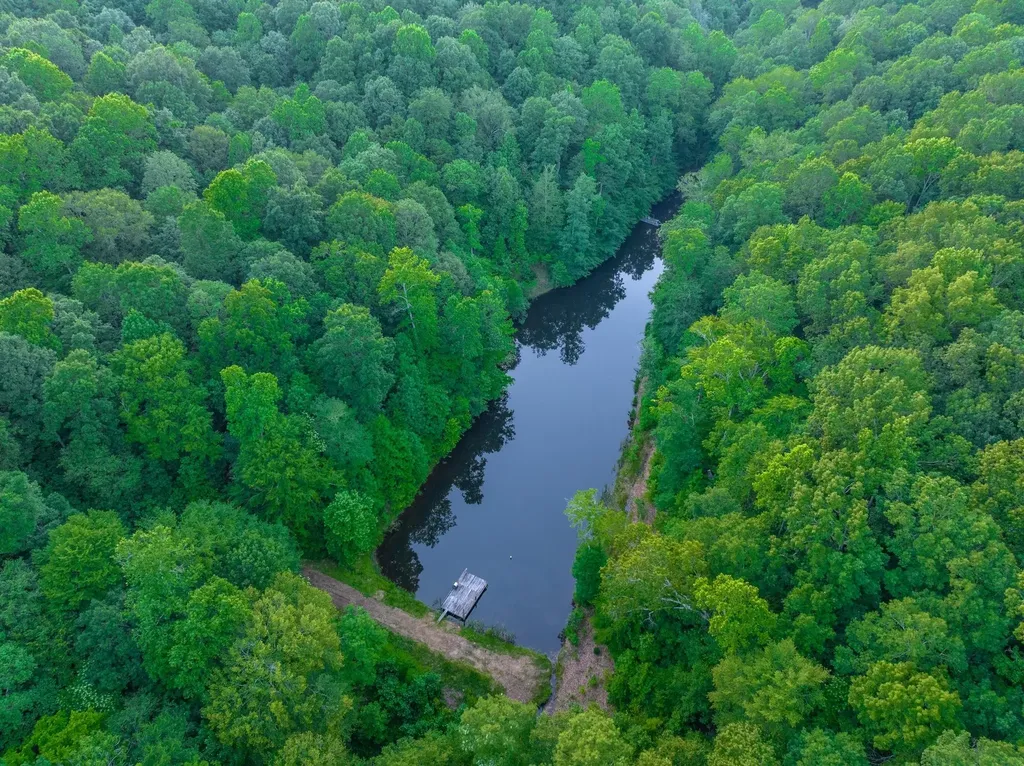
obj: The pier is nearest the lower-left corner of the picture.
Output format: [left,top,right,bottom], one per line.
[434,570,485,621]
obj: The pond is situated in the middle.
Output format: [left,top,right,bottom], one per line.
[378,154,711,660]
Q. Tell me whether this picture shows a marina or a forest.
forest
